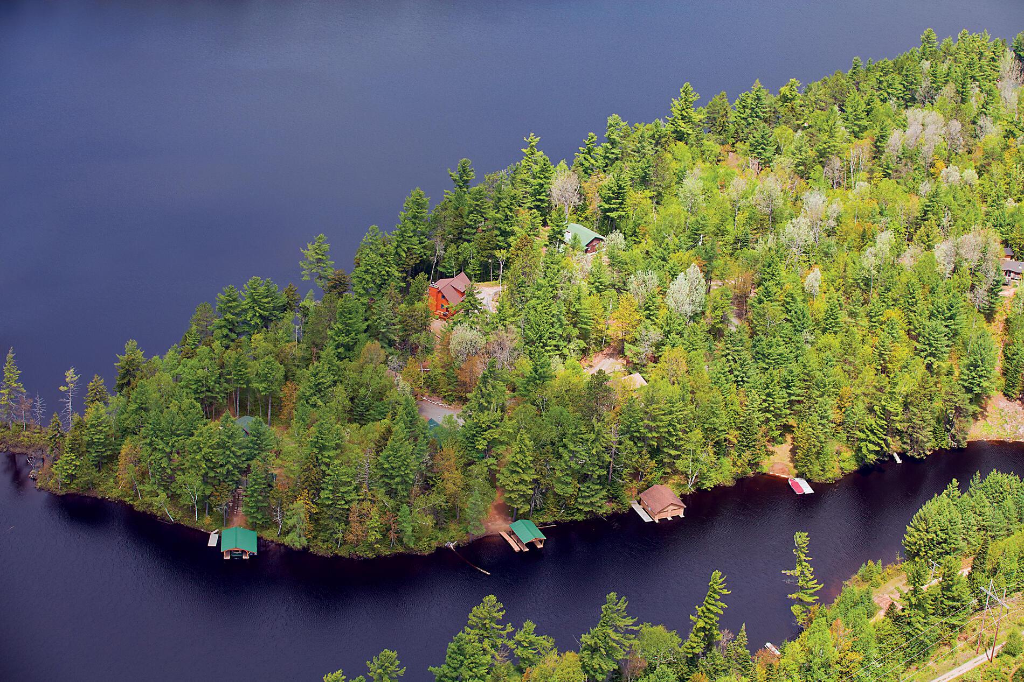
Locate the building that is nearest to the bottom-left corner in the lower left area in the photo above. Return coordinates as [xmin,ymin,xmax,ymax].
[221,525,261,561]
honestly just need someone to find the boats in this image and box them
[788,478,808,496]
[233,552,243,561]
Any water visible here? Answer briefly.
Yes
